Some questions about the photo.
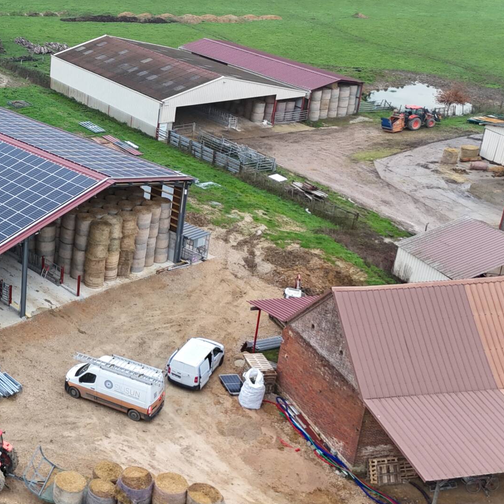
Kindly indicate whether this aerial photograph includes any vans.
Yes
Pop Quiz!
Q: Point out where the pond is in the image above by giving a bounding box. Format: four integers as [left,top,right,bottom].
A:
[371,83,471,117]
